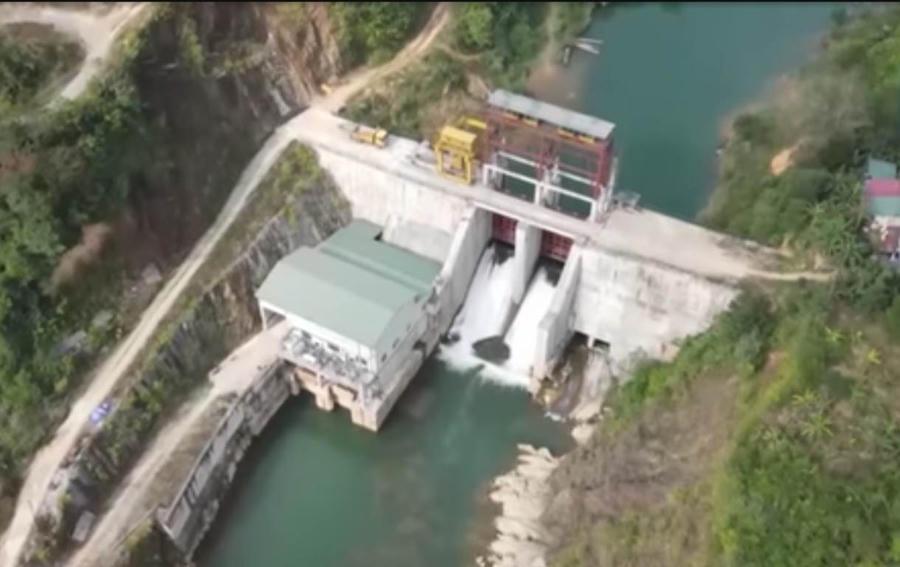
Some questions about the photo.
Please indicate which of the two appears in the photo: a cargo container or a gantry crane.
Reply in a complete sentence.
Looking from above, you can make out a gantry crane.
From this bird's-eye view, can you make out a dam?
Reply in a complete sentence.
Yes, a dam is visible in the scene.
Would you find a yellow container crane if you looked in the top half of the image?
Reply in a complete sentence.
Yes, a yellow container crane appears in the top half of the image.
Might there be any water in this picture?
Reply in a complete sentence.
Yes, water shows up in the scene.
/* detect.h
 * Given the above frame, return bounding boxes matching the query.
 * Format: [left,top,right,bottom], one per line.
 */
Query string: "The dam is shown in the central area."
[315,115,771,428]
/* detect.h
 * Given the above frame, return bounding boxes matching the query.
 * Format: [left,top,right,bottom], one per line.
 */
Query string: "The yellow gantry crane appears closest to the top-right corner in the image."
[433,123,490,190]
